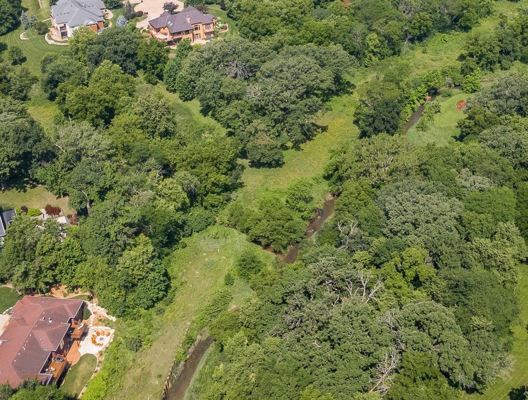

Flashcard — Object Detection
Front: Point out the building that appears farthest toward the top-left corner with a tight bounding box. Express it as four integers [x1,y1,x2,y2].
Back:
[51,0,106,38]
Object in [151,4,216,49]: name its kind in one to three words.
house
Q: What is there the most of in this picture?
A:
trees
